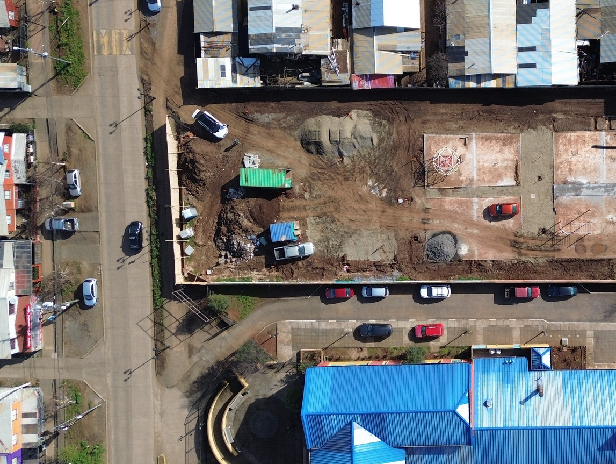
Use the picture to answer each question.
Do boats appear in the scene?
No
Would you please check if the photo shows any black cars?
Yes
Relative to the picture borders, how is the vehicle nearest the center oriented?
horizontally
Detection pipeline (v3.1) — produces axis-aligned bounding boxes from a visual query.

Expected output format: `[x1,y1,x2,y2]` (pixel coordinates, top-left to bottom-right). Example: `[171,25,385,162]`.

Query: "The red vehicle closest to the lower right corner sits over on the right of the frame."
[505,283,540,301]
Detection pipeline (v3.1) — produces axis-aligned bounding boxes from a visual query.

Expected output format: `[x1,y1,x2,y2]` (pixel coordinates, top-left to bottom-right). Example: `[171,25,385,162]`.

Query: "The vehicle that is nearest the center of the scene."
[272,241,315,261]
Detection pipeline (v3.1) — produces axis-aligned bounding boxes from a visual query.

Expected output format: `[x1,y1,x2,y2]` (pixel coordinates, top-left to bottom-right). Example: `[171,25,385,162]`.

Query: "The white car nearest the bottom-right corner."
[420,283,451,300]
